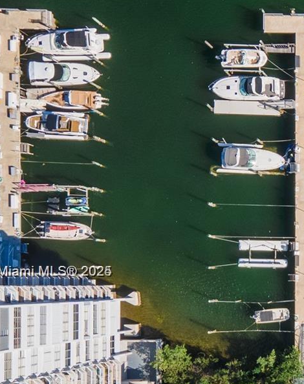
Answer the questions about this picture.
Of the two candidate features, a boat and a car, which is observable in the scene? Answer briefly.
boat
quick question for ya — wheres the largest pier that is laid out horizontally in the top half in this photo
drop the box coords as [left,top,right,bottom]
[214,101,284,116]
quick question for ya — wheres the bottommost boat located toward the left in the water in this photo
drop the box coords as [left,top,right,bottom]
[38,222,96,240]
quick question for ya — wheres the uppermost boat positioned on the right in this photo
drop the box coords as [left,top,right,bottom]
[216,48,268,68]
